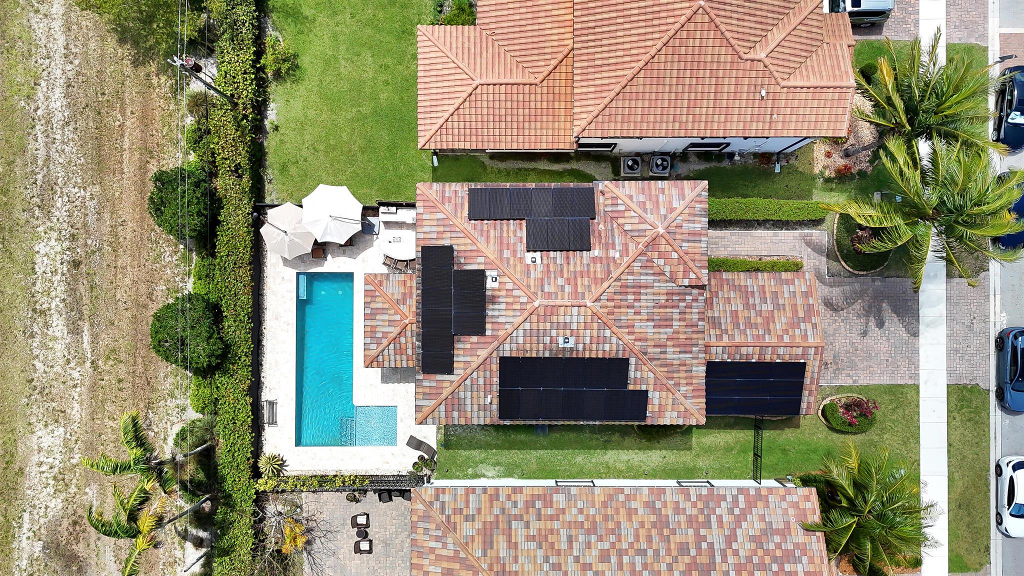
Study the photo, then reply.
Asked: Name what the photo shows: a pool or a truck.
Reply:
pool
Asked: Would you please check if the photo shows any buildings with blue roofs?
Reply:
No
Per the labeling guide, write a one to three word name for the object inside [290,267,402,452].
swimming pool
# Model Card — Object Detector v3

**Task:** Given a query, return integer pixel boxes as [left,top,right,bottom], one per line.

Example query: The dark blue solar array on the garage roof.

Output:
[706,359,807,417]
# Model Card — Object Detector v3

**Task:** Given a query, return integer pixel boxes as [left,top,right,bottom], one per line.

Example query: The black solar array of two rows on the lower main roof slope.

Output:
[496,358,650,422]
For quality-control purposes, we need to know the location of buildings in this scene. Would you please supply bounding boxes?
[408,479,833,576]
[362,178,828,435]
[415,0,861,159]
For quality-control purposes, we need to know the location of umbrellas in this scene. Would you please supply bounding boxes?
[302,184,373,244]
[259,202,316,259]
